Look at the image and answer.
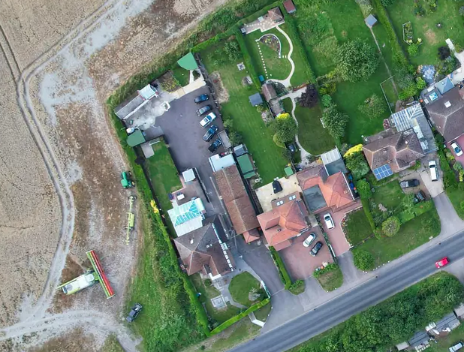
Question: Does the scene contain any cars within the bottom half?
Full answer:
Yes, you'll find a car within the bottom half.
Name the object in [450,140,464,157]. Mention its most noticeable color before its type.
white car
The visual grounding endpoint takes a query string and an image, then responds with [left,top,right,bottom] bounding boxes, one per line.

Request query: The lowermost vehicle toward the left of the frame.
[122,303,143,324]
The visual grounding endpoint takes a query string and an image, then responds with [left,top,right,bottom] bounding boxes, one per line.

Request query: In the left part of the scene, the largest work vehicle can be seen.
[53,244,120,296]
